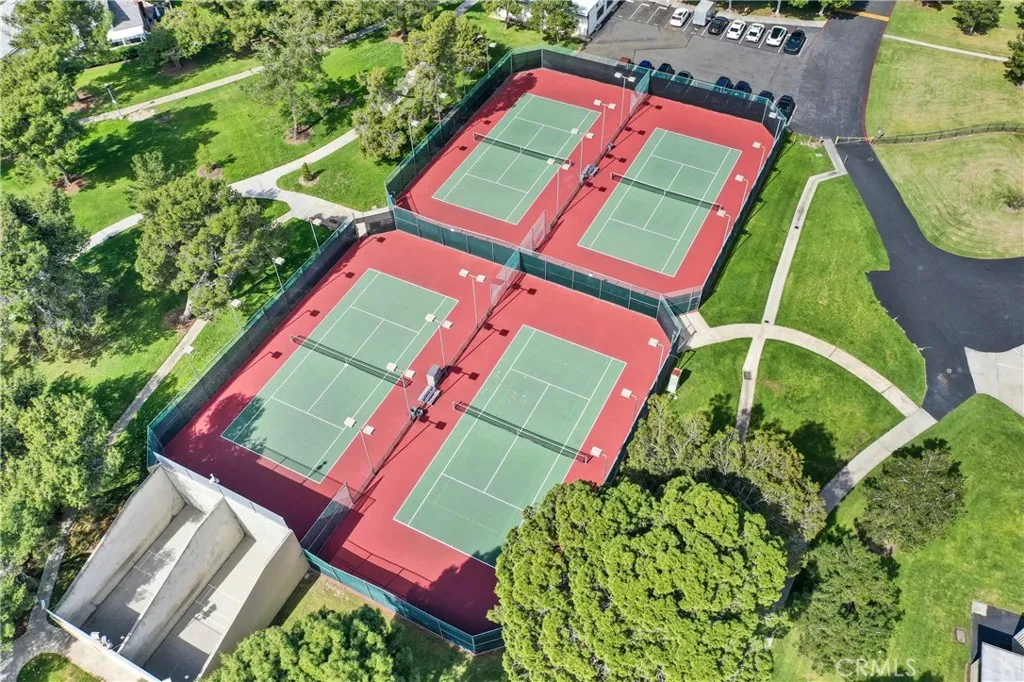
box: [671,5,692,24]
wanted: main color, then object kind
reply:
white car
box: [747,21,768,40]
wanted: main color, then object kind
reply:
white car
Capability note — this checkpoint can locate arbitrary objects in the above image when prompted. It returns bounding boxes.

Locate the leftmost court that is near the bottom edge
[44,452,309,682]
